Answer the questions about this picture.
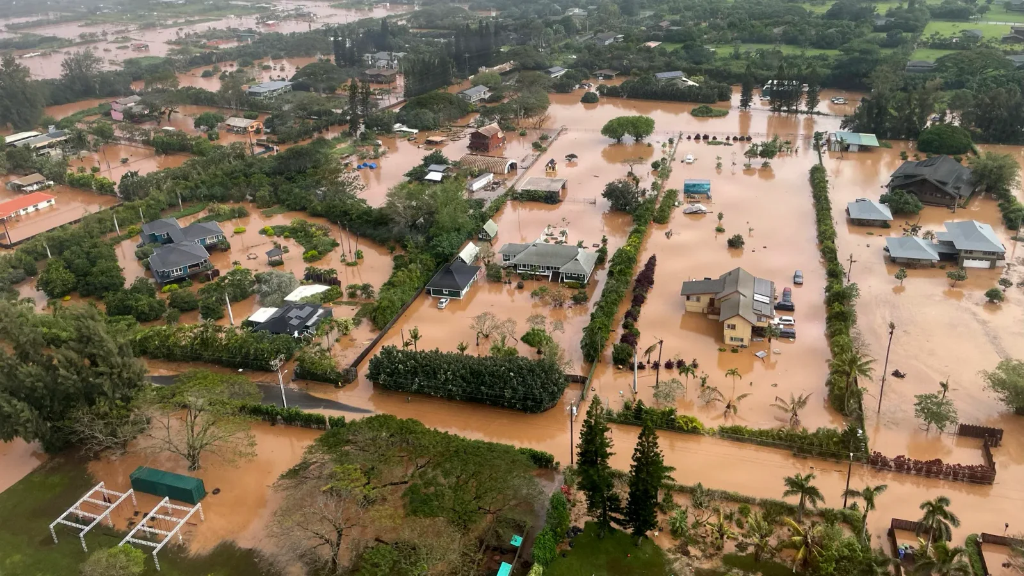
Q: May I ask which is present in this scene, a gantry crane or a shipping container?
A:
shipping container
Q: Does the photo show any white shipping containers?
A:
No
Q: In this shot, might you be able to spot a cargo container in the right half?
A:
No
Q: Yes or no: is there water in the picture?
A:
Yes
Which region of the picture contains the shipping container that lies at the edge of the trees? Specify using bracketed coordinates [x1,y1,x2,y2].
[130,466,206,501]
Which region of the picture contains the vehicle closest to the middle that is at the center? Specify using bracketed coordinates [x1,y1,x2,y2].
[436,298,451,310]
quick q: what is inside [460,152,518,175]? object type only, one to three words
shed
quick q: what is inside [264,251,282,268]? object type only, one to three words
gazebo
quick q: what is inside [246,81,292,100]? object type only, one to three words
house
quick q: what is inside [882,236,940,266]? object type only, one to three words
building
